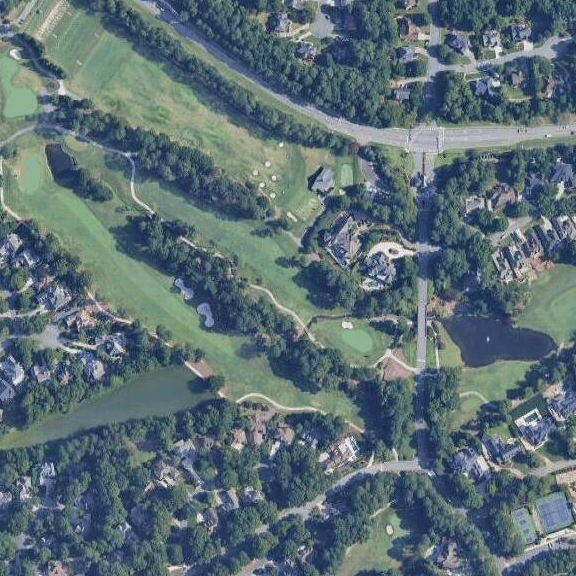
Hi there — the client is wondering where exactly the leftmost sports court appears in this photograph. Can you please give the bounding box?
[512,507,538,543]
